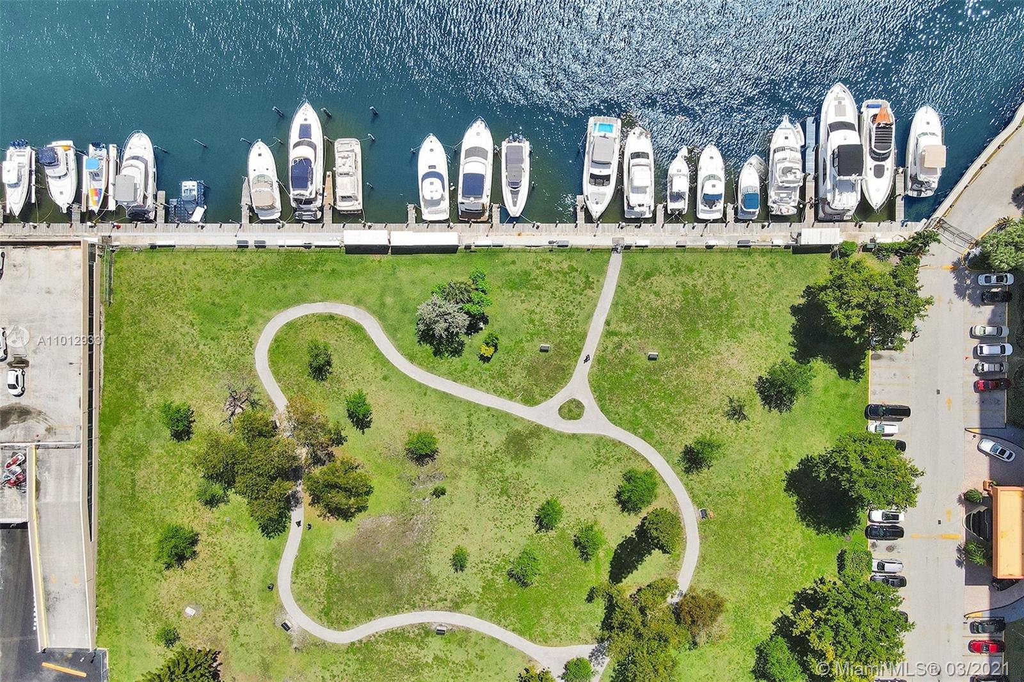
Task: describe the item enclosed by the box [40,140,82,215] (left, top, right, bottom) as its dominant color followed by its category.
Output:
white boat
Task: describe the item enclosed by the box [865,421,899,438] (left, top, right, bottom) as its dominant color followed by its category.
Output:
white car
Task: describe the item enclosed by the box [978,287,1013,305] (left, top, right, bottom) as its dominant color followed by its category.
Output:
black car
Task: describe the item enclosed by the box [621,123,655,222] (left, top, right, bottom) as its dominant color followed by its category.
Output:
white boat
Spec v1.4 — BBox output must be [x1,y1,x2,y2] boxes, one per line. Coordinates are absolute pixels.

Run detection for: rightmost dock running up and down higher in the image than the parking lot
[888,167,907,223]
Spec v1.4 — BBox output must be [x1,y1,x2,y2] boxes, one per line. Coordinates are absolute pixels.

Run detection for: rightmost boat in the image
[902,102,951,202]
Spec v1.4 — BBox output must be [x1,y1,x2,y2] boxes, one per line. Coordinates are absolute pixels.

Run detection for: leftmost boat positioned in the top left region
[1,139,36,220]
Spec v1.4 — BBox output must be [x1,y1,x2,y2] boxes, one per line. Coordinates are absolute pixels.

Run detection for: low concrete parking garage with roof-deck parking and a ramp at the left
[0,238,102,651]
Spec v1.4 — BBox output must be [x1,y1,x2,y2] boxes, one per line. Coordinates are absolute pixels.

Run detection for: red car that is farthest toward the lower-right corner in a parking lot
[966,637,1005,656]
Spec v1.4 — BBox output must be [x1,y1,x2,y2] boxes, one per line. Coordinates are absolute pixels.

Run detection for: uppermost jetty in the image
[800,115,819,168]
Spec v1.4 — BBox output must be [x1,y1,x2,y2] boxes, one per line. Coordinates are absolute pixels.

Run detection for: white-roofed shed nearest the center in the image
[391,232,459,248]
